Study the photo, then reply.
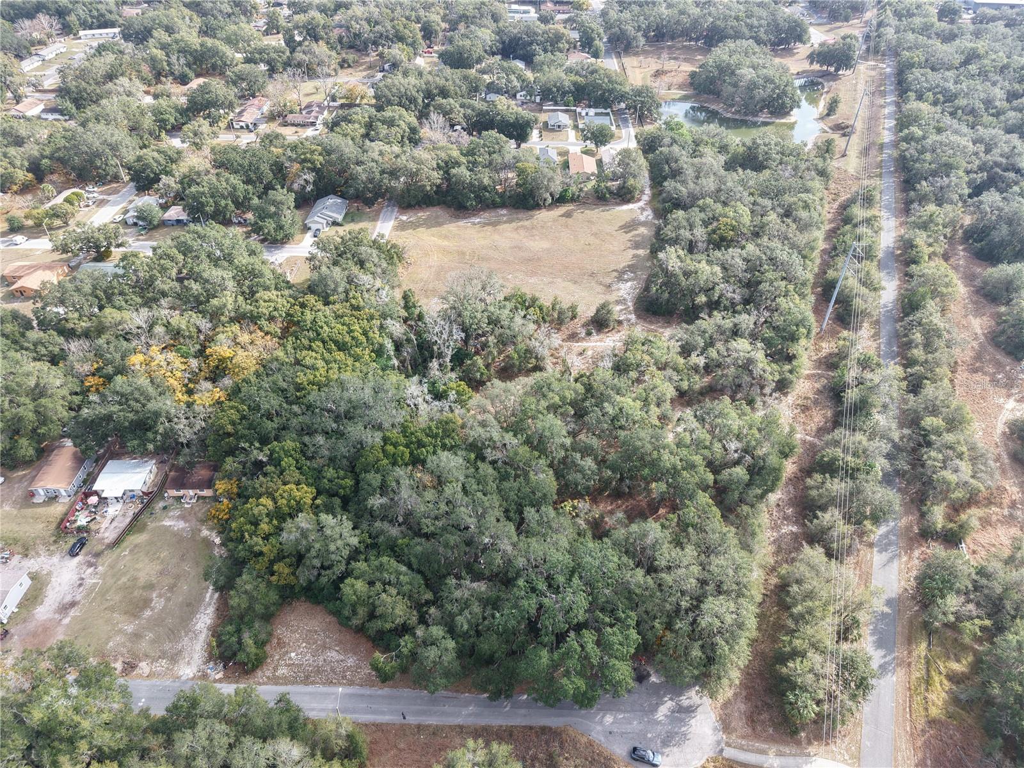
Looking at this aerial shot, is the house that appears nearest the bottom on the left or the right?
left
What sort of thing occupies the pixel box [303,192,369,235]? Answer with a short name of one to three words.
house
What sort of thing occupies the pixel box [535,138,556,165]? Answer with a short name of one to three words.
house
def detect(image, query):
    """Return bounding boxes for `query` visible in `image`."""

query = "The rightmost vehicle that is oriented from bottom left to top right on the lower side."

[62,536,89,560]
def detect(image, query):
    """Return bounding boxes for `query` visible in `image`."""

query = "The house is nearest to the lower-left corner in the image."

[0,573,31,625]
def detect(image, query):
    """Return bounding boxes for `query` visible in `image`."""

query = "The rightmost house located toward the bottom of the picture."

[156,457,226,508]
